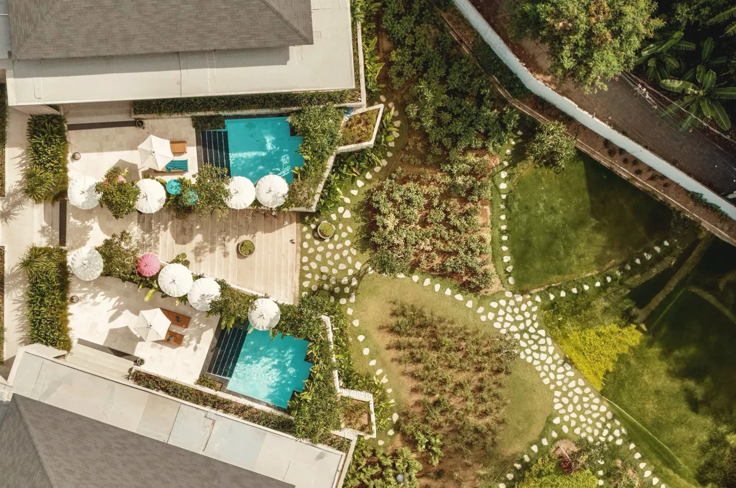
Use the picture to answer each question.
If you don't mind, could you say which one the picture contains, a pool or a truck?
pool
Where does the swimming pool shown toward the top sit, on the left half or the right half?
left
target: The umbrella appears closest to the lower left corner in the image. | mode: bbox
[134,308,171,342]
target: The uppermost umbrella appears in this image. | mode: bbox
[138,135,173,170]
